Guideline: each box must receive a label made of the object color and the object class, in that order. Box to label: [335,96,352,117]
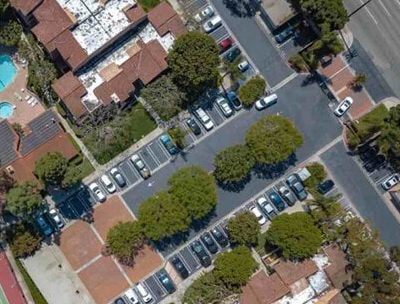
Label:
white car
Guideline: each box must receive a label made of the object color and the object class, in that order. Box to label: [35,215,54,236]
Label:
blue car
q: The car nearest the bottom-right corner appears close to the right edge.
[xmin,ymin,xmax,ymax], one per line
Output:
[381,171,400,188]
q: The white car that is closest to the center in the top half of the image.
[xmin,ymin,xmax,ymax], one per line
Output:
[196,107,213,129]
